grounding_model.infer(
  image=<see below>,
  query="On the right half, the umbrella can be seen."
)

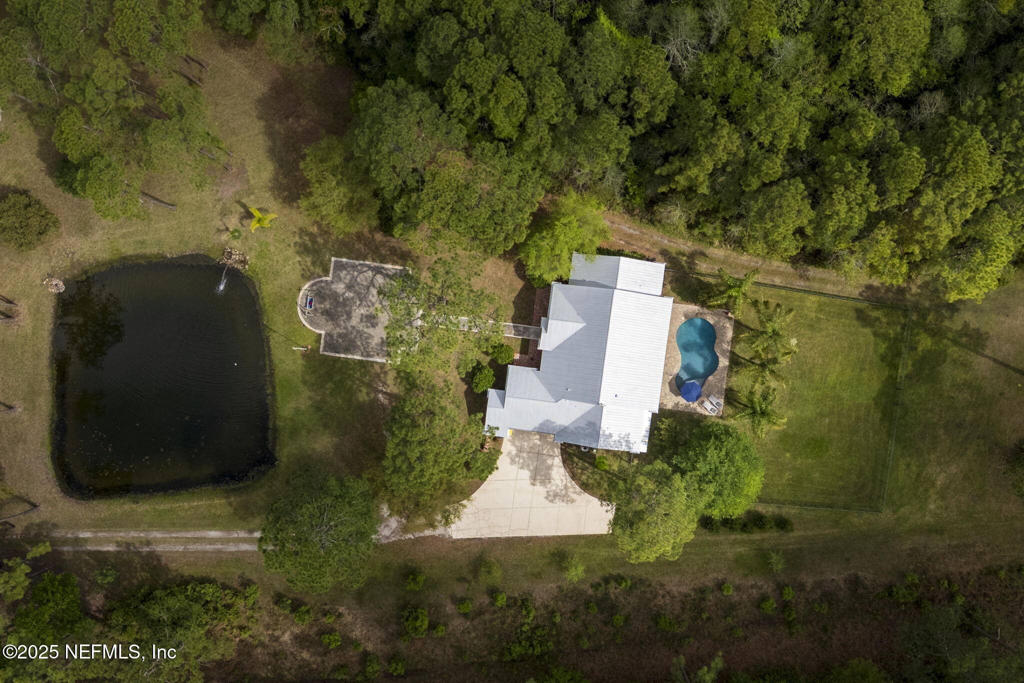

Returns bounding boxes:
[678,380,700,402]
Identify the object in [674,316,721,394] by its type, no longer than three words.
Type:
swimming pool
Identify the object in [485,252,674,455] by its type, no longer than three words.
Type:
house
